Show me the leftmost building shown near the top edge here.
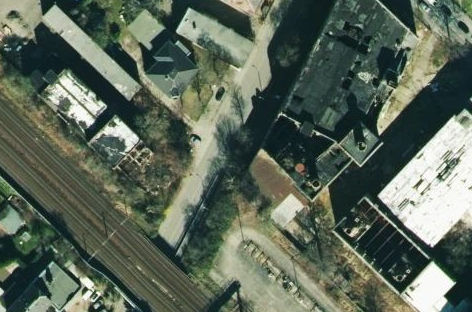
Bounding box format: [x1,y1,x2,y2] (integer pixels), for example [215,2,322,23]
[42,4,140,101]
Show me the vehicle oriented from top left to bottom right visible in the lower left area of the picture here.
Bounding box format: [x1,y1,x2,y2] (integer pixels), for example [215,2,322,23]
[77,275,96,289]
